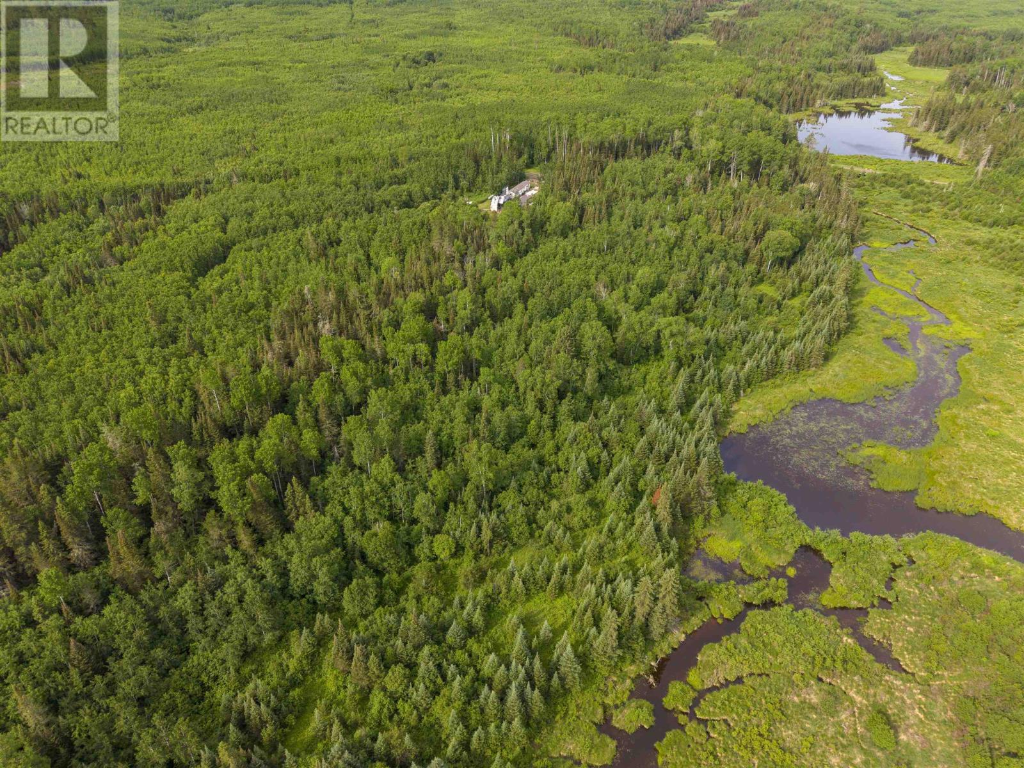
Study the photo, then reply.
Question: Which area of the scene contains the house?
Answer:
top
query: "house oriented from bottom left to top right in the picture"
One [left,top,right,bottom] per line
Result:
[497,177,537,210]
